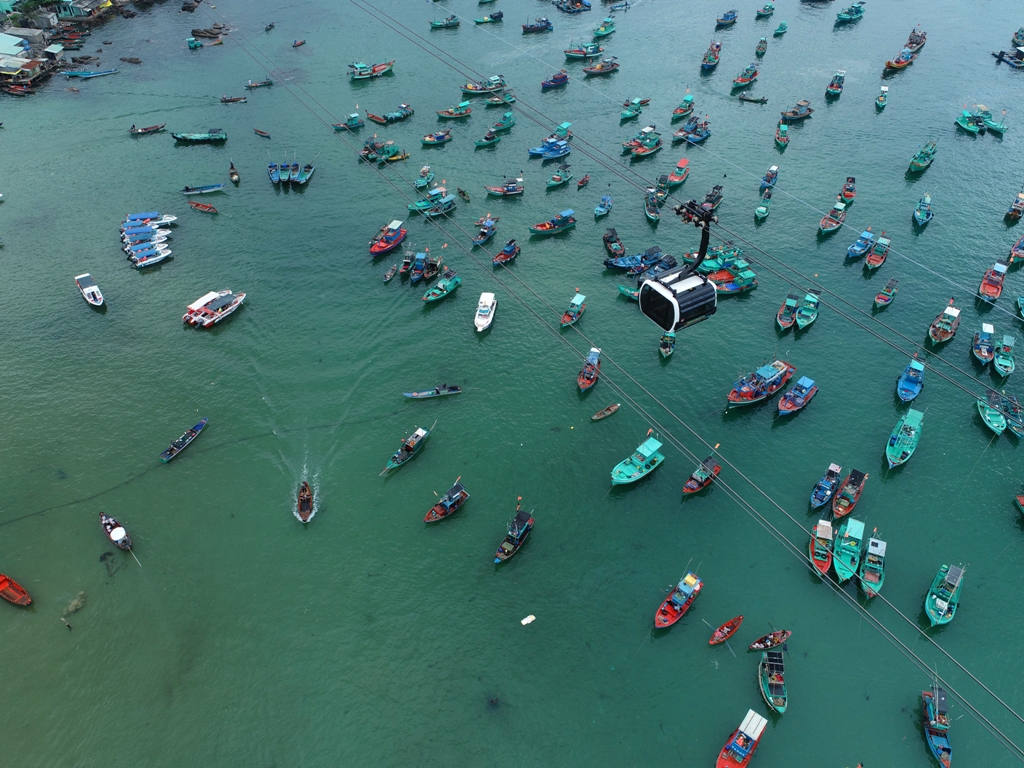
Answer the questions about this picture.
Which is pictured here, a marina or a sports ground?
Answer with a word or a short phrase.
marina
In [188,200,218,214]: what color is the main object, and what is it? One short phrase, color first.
red boat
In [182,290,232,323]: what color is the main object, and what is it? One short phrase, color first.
white boat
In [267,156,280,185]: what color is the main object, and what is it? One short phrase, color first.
blue boat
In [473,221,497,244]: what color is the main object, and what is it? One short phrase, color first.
blue boat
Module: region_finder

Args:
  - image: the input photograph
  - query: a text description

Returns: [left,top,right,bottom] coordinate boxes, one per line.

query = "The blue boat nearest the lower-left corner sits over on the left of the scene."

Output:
[148,419,208,462]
